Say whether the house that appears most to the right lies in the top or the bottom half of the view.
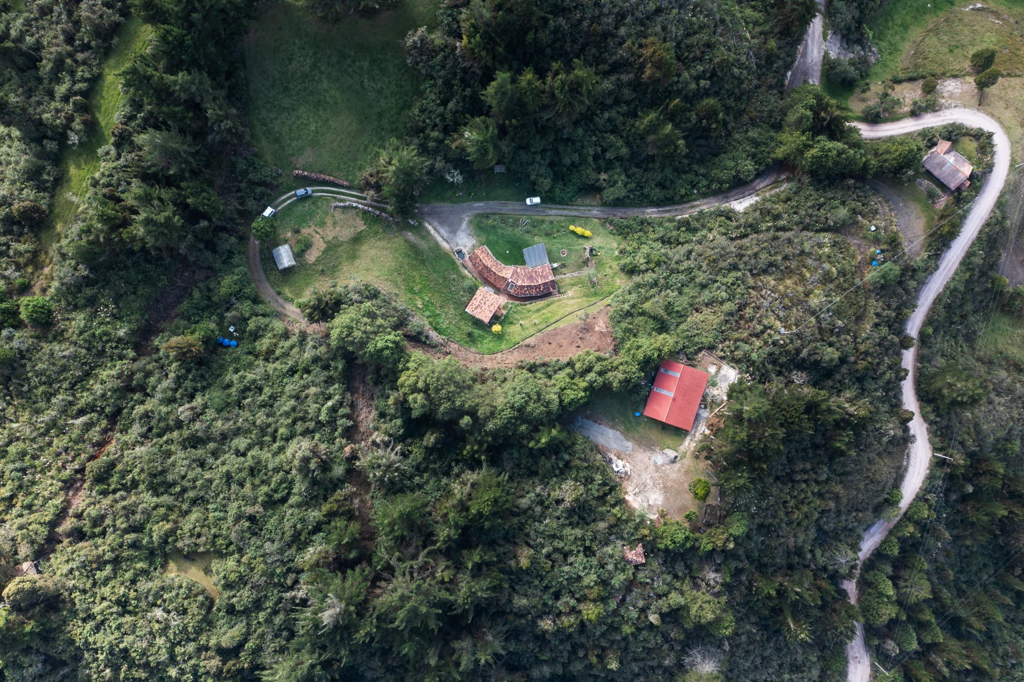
top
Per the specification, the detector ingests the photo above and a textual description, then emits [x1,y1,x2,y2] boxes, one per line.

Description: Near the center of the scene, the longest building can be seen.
[468,245,557,296]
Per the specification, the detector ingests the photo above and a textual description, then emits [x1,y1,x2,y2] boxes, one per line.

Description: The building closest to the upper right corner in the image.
[920,139,972,190]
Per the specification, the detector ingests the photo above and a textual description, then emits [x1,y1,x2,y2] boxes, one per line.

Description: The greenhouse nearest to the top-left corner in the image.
[272,244,297,270]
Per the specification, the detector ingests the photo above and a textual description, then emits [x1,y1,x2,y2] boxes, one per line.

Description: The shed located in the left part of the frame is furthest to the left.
[14,561,42,578]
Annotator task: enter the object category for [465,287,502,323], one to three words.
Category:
shed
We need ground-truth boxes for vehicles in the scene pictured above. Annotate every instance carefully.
[526,197,541,205]
[260,205,275,219]
[295,187,312,197]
